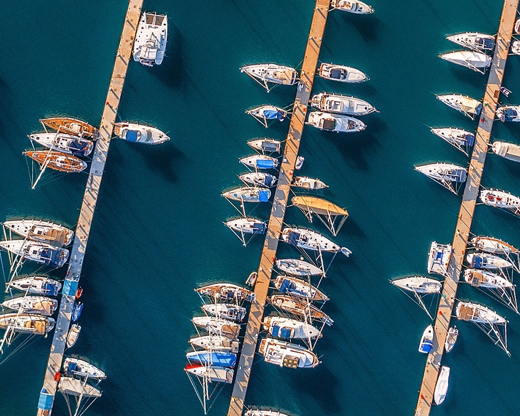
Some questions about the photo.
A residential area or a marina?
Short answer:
marina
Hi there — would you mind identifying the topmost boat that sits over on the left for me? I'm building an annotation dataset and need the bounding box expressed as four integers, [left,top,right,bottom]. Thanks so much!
[133,12,171,64]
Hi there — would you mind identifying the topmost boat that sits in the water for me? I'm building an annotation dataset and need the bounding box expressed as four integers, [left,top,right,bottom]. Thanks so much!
[331,0,380,17]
